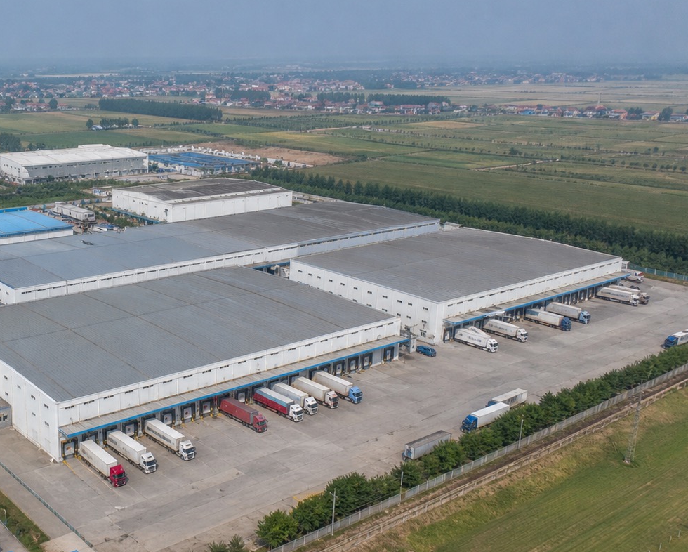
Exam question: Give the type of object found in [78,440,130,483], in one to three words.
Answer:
truck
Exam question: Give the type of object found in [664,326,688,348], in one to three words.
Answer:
truck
